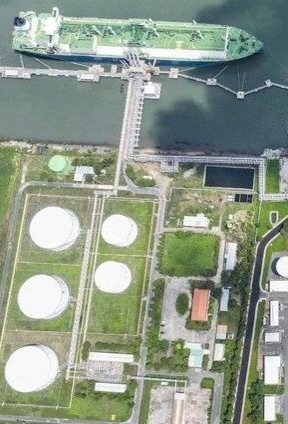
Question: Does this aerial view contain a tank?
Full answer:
Yes, a tank appears in the view.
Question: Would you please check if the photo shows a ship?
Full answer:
Yes, the image includes a ship.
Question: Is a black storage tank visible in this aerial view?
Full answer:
No, no black storage tank is visible in the view.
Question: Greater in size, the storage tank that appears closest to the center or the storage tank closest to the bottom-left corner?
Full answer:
The storage tank closest to the bottom-left corner takes up more space than the storage tank that appears closest to the center does.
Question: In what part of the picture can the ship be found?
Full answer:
The ship is located in the top region of the scene.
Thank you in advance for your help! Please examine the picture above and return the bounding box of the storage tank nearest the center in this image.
[101,213,140,249]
